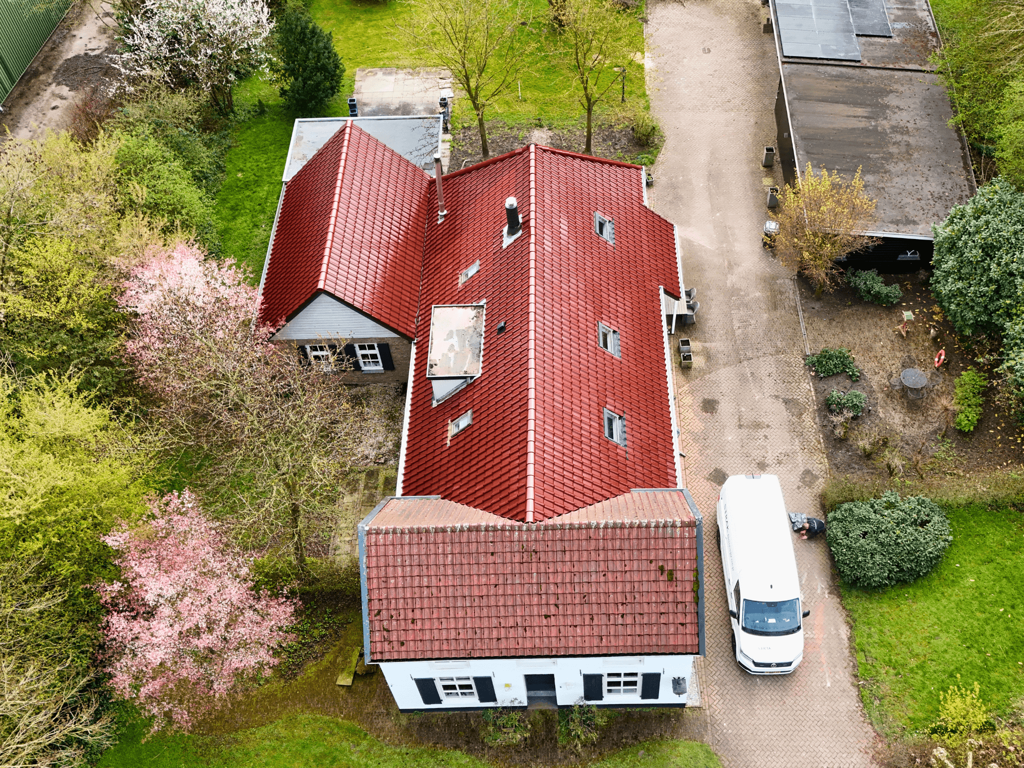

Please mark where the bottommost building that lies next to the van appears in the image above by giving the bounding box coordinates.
[357,483,705,719]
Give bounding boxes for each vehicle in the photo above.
[712,470,812,670]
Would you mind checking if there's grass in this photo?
Yes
